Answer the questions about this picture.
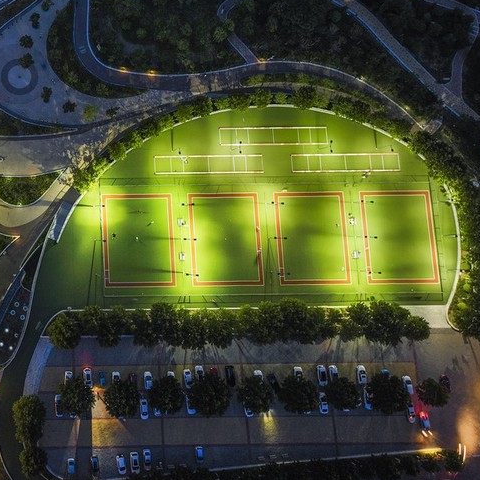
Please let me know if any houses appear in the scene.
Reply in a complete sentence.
No, there appears to be no house in this shot.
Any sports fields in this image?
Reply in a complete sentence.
Yes, a sports field appears in the view.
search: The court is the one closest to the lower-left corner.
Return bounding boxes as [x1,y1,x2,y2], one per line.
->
[102,194,176,287]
